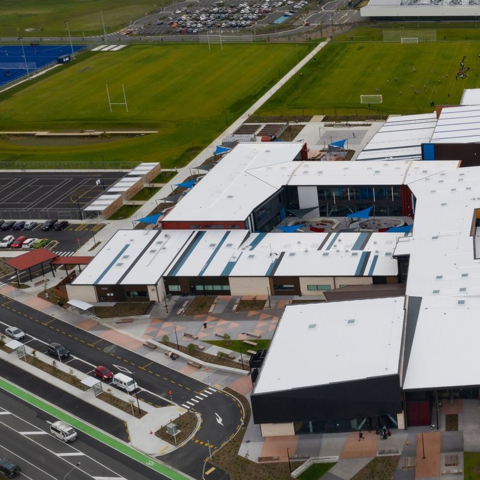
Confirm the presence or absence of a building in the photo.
Yes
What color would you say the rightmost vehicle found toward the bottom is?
white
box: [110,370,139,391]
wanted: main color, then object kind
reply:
white vehicle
